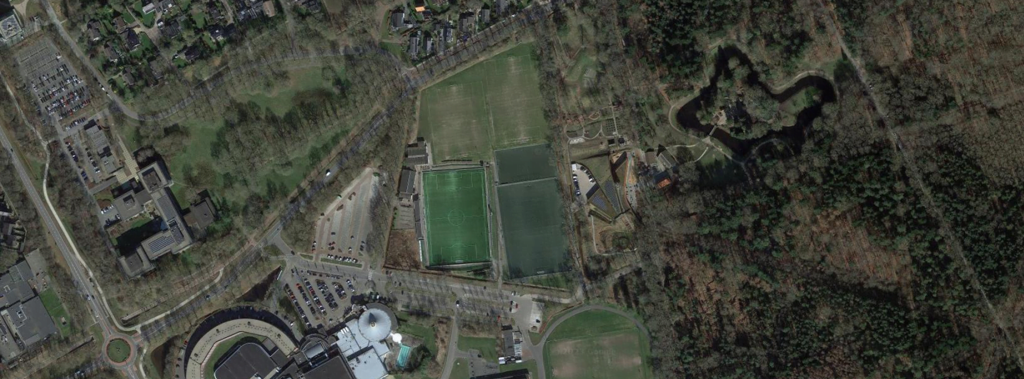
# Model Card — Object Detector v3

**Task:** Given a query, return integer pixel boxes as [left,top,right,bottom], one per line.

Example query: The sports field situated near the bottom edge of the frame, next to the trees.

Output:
[547,329,641,379]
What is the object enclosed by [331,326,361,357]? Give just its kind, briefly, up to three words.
building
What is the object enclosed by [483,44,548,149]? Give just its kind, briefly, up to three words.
soccer field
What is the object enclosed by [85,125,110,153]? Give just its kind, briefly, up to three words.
building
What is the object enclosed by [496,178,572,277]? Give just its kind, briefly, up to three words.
sports field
